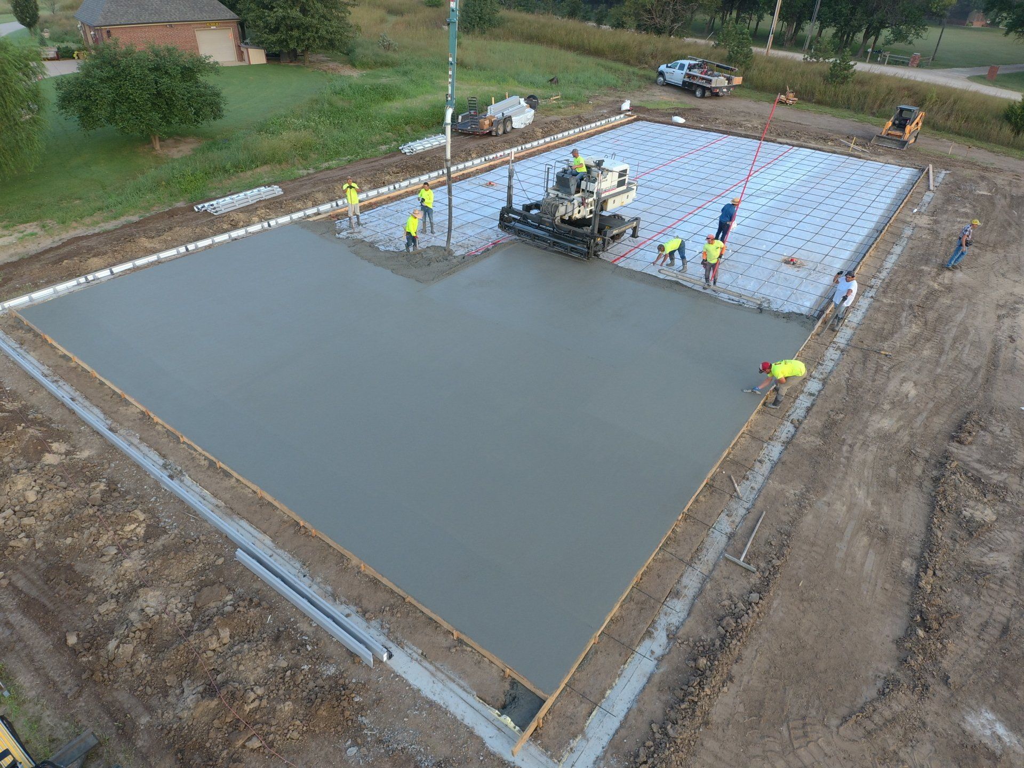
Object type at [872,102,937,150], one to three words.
work vehicle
